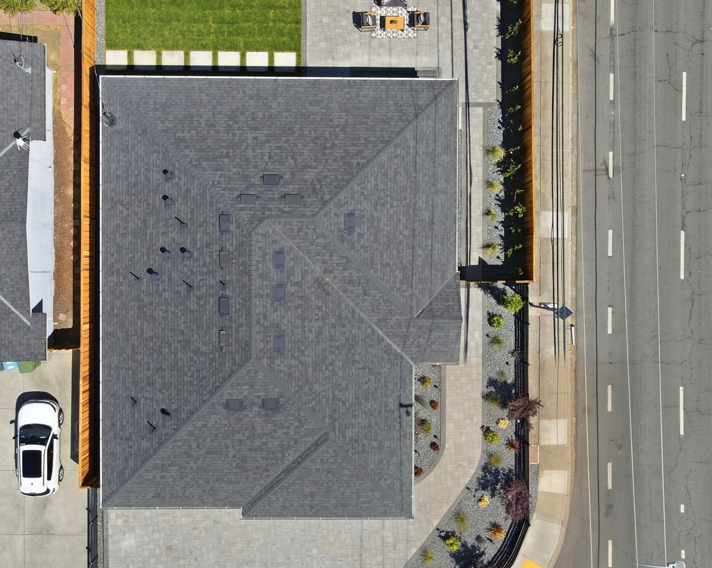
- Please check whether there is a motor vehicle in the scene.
Yes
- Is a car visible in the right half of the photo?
No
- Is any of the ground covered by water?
No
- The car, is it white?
Yes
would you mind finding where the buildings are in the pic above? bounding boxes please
[0,37,66,362]
[98,74,464,521]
